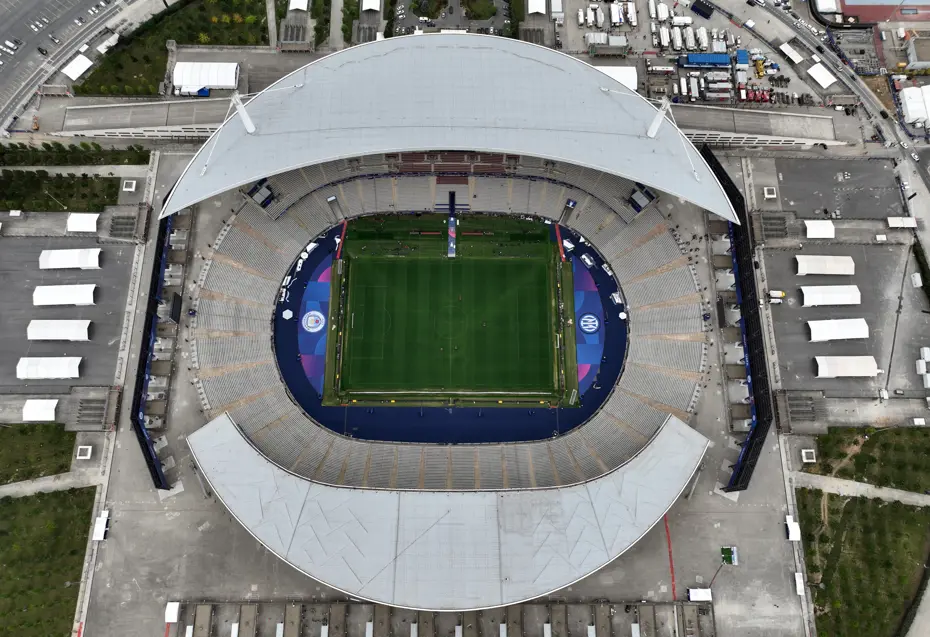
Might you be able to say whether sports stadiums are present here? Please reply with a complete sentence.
Yes, a sports stadium can be made out from above.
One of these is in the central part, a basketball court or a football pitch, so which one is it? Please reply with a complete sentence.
Visible in the central part is a football pitch.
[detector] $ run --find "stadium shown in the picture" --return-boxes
[158,32,740,612]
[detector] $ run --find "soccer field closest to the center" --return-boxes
[322,212,580,407]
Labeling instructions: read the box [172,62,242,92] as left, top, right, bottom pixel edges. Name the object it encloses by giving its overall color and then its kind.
white tent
